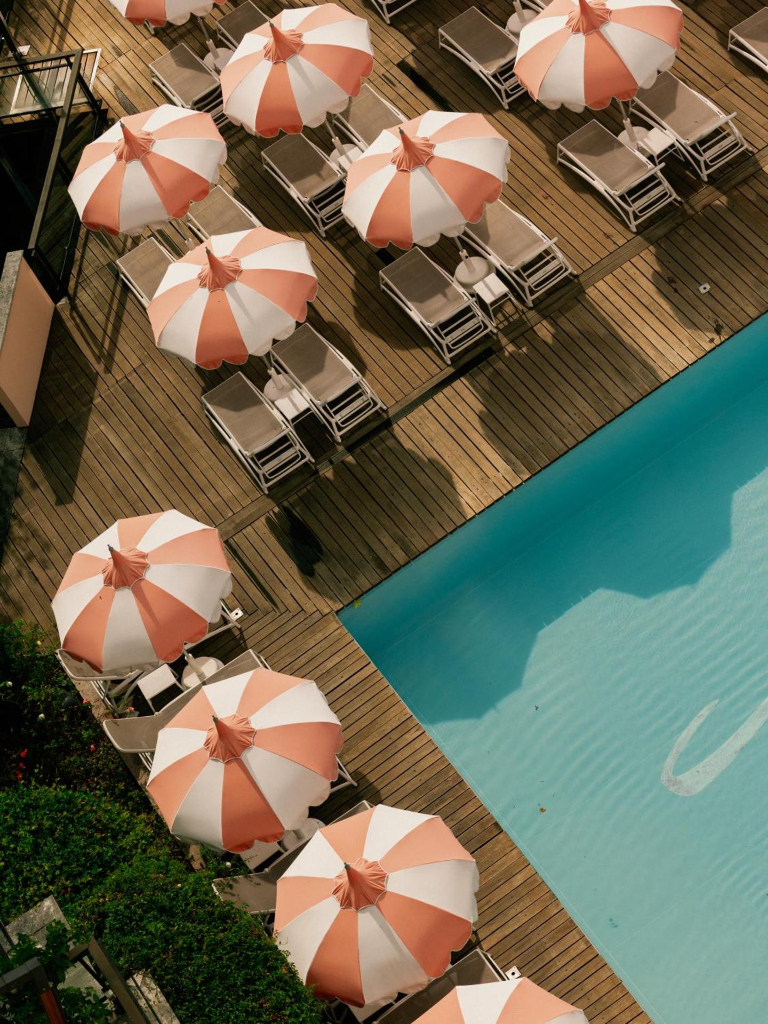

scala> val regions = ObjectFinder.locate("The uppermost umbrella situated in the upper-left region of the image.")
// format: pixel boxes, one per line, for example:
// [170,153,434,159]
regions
[110,0,233,77]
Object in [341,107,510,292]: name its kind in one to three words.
umbrella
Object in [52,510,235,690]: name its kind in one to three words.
umbrella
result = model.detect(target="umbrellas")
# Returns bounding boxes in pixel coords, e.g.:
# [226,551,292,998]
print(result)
[341,107,510,292]
[146,224,318,410]
[219,3,377,178]
[508,0,536,40]
[147,667,344,856]
[413,979,586,1024]
[512,0,683,159]
[271,802,478,1008]
[110,0,233,77]
[66,100,227,251]
[52,510,235,690]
